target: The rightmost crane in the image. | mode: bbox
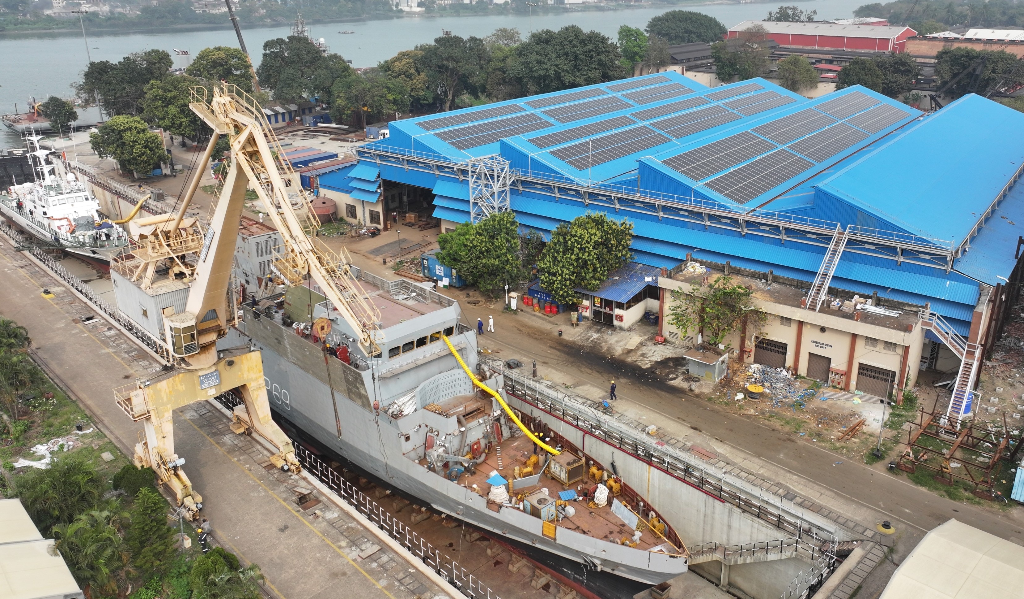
[938,34,1024,97]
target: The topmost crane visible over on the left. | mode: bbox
[224,0,290,137]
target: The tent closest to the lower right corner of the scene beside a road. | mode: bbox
[877,511,1024,599]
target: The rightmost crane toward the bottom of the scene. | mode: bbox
[433,450,478,478]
